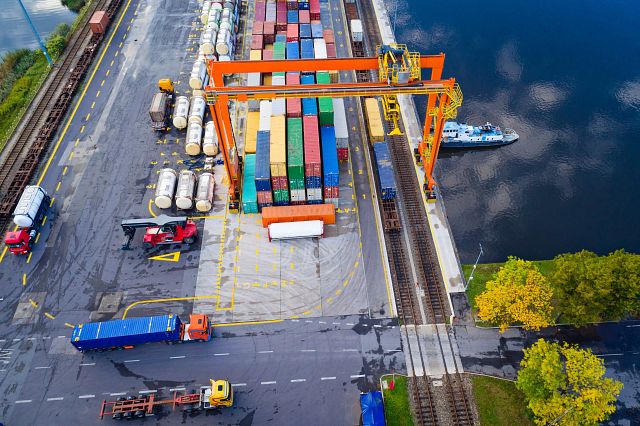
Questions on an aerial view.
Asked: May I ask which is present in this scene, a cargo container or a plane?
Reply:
cargo container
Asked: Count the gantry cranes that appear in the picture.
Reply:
one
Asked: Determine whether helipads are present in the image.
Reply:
No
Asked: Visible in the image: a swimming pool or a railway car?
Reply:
railway car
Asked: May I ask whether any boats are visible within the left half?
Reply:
No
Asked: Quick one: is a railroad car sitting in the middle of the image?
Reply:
Yes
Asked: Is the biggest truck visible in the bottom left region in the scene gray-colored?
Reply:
No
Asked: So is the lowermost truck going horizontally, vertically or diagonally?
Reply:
horizontally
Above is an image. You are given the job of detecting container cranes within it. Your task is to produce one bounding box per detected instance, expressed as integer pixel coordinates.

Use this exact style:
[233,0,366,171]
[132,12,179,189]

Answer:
[197,43,469,217]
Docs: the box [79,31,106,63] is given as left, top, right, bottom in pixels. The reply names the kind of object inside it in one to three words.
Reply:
rail car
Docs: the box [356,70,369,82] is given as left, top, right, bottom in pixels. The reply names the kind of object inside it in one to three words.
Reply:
rail car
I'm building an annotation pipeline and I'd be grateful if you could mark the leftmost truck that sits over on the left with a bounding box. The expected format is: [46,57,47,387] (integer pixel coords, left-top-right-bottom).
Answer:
[3,186,52,257]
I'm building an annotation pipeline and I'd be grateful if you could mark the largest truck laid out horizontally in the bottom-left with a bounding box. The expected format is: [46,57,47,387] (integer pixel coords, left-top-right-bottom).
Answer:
[70,315,212,354]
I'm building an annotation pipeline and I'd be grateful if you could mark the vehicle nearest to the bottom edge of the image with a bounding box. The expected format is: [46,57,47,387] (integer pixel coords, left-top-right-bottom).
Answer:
[98,382,231,420]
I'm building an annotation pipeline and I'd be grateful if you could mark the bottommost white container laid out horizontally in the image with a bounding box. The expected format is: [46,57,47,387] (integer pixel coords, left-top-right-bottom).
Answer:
[268,216,323,242]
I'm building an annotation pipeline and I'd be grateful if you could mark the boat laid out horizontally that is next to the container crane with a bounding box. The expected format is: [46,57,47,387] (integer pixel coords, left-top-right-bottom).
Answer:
[429,117,518,149]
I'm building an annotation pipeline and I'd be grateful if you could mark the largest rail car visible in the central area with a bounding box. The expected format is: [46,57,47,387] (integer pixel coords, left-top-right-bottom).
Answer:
[373,162,399,226]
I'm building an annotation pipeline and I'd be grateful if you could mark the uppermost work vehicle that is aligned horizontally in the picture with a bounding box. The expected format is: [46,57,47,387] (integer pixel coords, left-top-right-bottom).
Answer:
[114,217,198,250]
